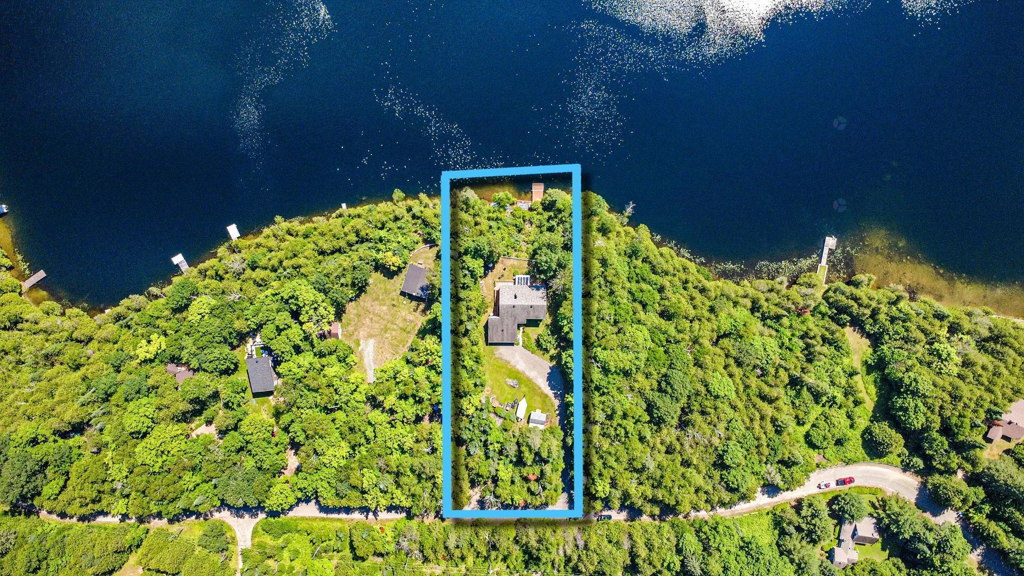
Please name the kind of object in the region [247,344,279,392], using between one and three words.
building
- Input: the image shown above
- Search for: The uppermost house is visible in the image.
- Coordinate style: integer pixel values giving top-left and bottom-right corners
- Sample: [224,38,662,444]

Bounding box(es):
[401,263,429,298]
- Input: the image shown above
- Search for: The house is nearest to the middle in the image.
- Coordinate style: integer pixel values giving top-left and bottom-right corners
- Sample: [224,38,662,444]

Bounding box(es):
[488,275,546,342]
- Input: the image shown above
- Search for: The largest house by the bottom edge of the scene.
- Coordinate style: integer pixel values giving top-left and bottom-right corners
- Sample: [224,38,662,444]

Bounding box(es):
[828,514,879,568]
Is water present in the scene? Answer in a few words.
Yes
